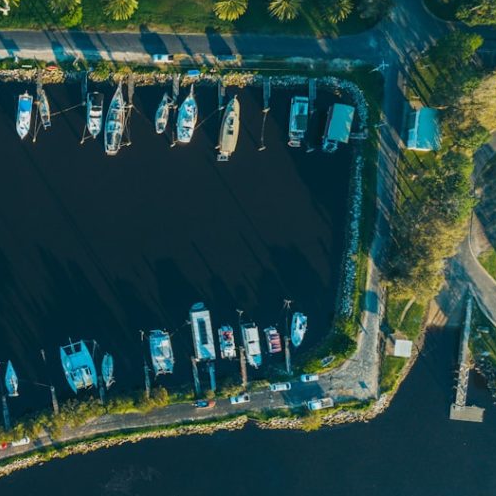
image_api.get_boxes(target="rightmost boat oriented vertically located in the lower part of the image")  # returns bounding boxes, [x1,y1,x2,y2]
[292,311,309,348]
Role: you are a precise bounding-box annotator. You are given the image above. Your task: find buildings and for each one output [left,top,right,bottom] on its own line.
[388,339,411,358]
[401,108,447,152]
